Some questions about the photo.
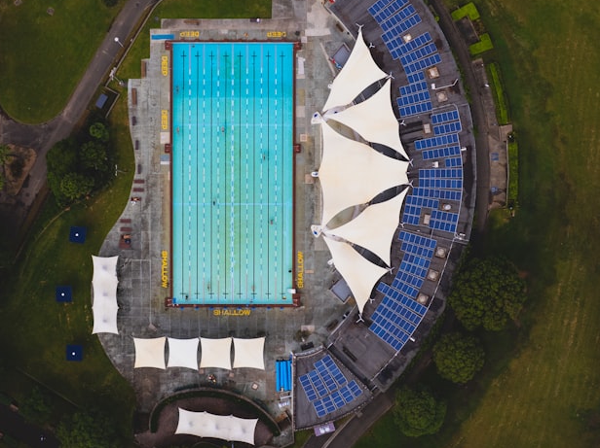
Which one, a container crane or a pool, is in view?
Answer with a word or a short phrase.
pool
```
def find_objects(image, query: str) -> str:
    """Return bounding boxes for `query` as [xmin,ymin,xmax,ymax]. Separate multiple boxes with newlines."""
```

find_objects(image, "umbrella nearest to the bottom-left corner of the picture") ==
[66,344,83,362]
